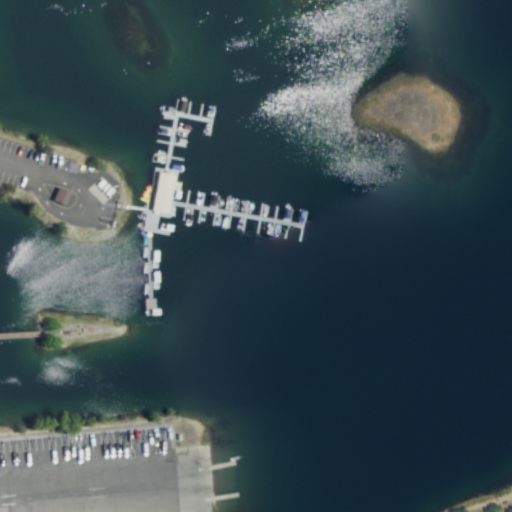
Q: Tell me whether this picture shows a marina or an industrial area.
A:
marina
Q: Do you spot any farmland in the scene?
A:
No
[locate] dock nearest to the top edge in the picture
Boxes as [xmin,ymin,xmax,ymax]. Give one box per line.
[156,99,216,172]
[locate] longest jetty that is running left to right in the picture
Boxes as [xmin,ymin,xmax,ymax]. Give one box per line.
[174,190,308,241]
